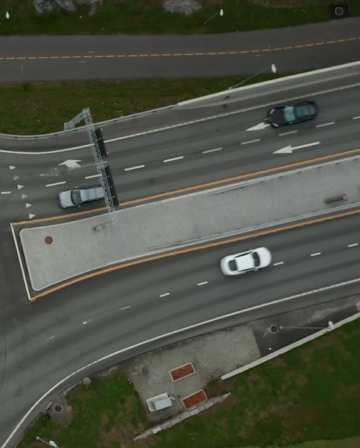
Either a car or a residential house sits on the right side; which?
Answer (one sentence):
Looking on the right side, you will find a car.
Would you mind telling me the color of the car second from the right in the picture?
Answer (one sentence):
In this view, the car second from the right is white.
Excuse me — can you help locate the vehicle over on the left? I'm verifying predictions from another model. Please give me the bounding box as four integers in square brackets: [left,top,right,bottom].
[61,187,106,209]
